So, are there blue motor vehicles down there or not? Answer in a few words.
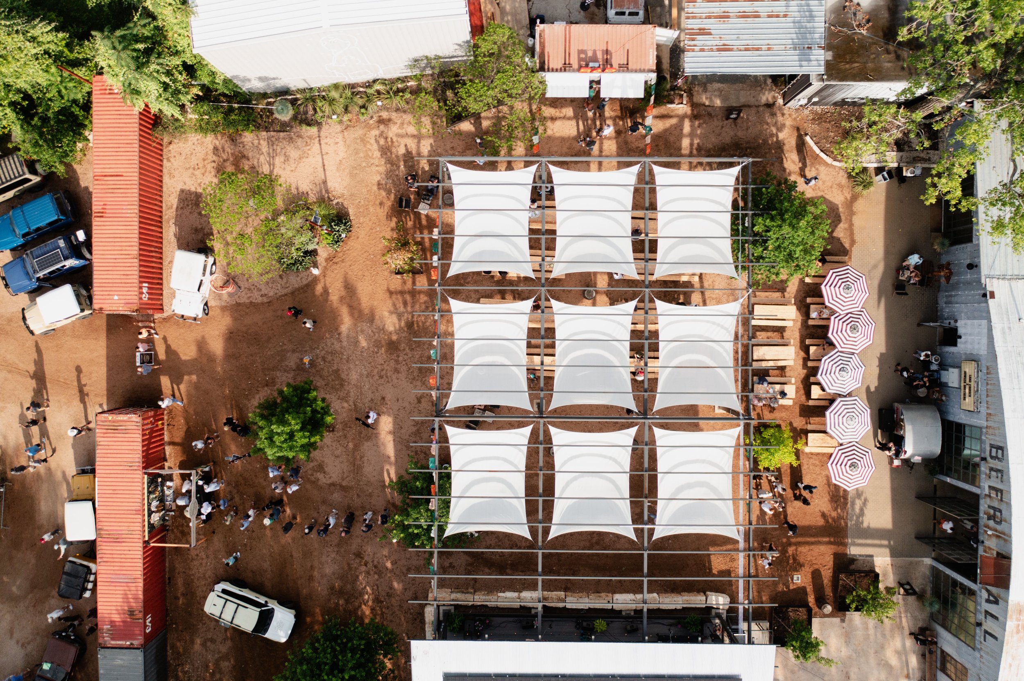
Yes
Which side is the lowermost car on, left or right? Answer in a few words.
left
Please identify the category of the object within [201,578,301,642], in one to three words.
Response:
car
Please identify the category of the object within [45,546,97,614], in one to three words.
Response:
car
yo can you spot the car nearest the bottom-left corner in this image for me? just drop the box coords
[29,619,89,681]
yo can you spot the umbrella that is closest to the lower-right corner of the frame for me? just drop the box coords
[825,440,875,487]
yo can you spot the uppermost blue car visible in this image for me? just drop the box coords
[0,188,91,250]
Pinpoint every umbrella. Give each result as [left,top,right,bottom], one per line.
[815,349,865,397]
[825,307,876,352]
[825,440,875,487]
[819,395,870,444]
[817,267,867,313]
